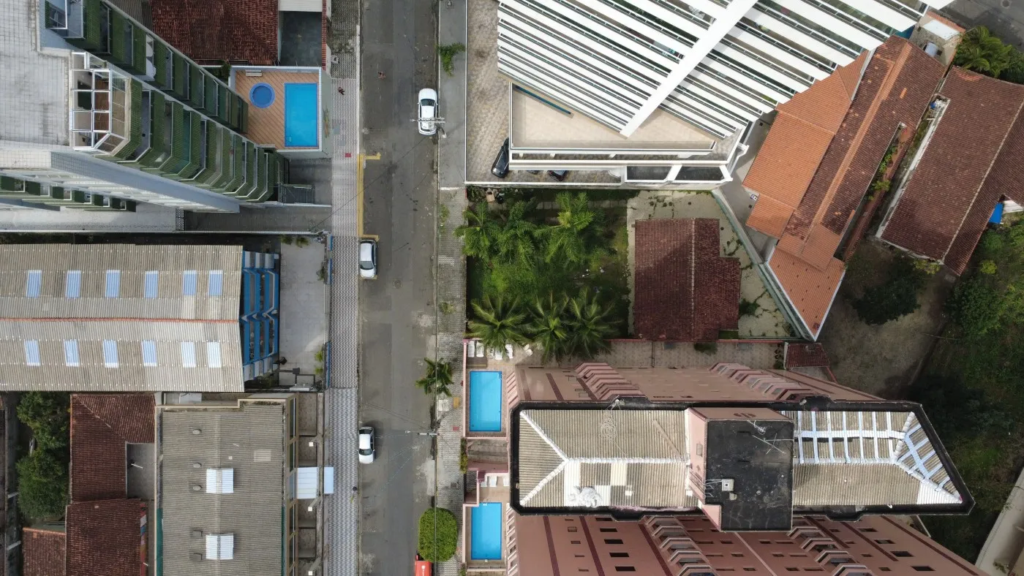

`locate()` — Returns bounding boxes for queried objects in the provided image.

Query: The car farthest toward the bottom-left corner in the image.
[356,426,377,465]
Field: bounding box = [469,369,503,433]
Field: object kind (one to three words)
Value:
swimming pool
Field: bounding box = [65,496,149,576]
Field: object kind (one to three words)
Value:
house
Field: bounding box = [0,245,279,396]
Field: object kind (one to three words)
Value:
building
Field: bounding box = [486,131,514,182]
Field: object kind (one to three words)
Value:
car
